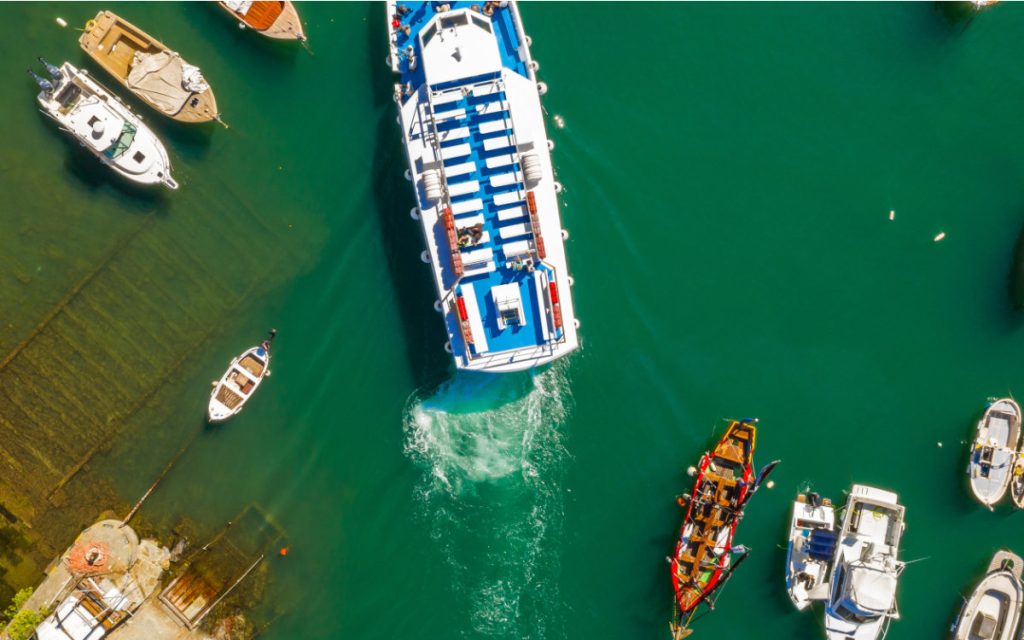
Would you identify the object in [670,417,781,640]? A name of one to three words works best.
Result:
boat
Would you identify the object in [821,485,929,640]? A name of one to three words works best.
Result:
boat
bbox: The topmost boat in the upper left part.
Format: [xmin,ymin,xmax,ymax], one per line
[216,0,312,55]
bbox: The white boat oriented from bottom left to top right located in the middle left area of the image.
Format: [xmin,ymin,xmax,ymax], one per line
[208,332,275,423]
